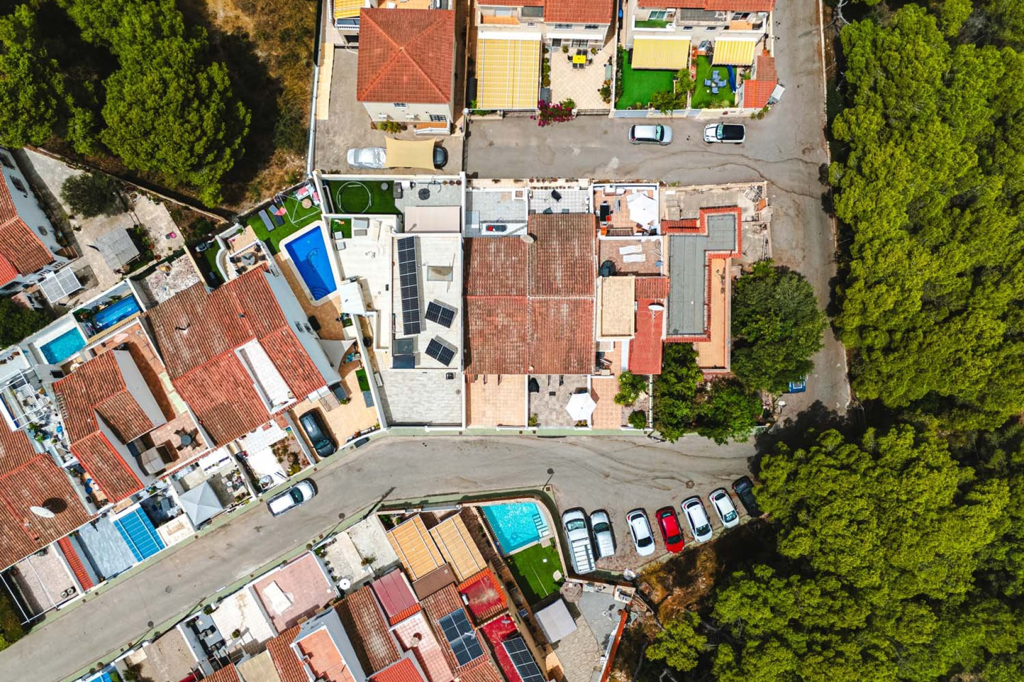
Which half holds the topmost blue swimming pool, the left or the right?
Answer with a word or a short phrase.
left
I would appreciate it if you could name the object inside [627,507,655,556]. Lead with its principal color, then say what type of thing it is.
white car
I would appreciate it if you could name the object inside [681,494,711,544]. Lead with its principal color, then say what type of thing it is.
white car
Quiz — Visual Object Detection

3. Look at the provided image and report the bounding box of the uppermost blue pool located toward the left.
[278,217,341,308]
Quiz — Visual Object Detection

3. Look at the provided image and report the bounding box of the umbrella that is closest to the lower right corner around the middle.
[565,393,599,423]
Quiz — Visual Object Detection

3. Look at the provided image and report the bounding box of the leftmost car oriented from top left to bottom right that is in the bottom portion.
[299,407,339,458]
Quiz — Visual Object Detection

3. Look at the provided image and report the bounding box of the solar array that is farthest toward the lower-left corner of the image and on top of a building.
[439,609,483,666]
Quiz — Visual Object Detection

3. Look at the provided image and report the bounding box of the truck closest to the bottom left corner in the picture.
[265,476,320,514]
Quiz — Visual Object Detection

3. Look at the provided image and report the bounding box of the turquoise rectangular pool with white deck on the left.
[37,324,91,365]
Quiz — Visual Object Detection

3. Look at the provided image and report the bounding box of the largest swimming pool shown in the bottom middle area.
[479,501,549,558]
